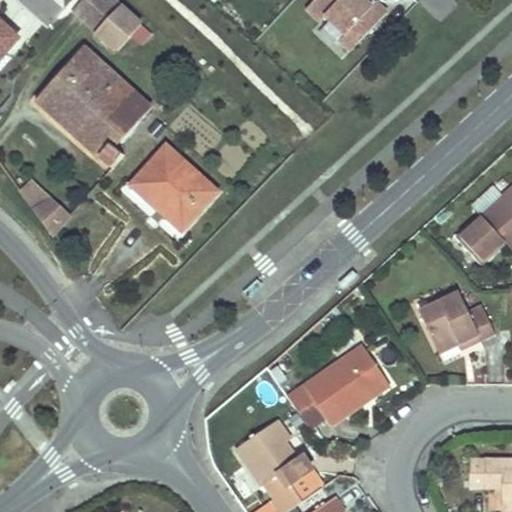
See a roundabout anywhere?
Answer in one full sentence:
Yes, I can see a roundabout in this picture.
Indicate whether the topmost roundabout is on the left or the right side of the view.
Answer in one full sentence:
The topmost roundabout appears in the left half of the scene.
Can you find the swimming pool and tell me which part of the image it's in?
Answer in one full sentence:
Look in the bottom portion of the view to spot the swimming pool.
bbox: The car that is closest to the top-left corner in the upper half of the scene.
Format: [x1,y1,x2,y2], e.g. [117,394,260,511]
[150,119,165,136]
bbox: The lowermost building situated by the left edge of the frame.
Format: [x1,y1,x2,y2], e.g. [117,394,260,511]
[19,178,72,238]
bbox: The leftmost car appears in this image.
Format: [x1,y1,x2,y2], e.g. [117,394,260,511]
[126,228,140,244]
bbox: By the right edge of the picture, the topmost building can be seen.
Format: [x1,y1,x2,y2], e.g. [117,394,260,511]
[458,184,512,264]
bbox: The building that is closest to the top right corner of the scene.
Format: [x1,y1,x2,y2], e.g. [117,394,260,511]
[304,0,389,62]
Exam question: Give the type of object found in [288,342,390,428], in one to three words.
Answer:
house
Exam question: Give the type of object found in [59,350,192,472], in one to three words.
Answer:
roundabout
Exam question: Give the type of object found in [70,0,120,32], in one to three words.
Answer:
house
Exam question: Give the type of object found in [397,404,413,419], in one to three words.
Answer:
car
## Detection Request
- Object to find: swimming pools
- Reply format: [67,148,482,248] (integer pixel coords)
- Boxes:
[256,380,278,406]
